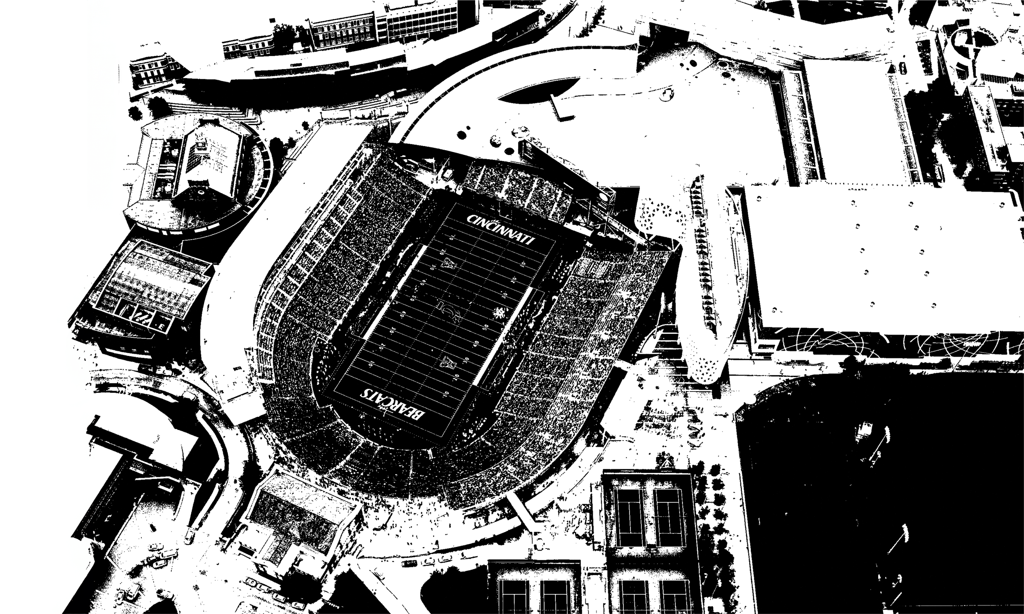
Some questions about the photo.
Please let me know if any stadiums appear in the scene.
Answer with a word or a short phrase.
Yes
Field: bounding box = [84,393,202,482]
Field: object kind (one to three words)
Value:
building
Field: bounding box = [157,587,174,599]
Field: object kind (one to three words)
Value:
vehicle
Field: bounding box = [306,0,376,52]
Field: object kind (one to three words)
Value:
building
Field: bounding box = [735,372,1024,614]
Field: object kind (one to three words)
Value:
sports field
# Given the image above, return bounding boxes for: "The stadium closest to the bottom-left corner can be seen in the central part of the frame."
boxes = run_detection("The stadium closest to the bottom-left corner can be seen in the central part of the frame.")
[200,125,676,511]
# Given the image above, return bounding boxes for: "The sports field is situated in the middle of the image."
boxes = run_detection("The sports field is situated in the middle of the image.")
[309,179,586,478]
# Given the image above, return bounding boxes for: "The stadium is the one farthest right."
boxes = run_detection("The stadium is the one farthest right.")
[739,180,1024,360]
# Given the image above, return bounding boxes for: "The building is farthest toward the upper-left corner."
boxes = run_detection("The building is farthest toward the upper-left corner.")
[123,32,170,81]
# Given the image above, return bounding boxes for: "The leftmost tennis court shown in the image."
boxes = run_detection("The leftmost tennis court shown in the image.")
[498,580,531,614]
